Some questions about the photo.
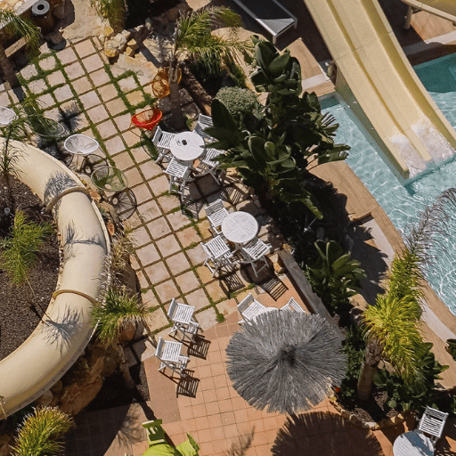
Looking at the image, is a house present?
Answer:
No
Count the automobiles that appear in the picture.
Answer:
0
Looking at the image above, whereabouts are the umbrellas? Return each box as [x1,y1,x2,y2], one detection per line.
[223,309,350,428]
